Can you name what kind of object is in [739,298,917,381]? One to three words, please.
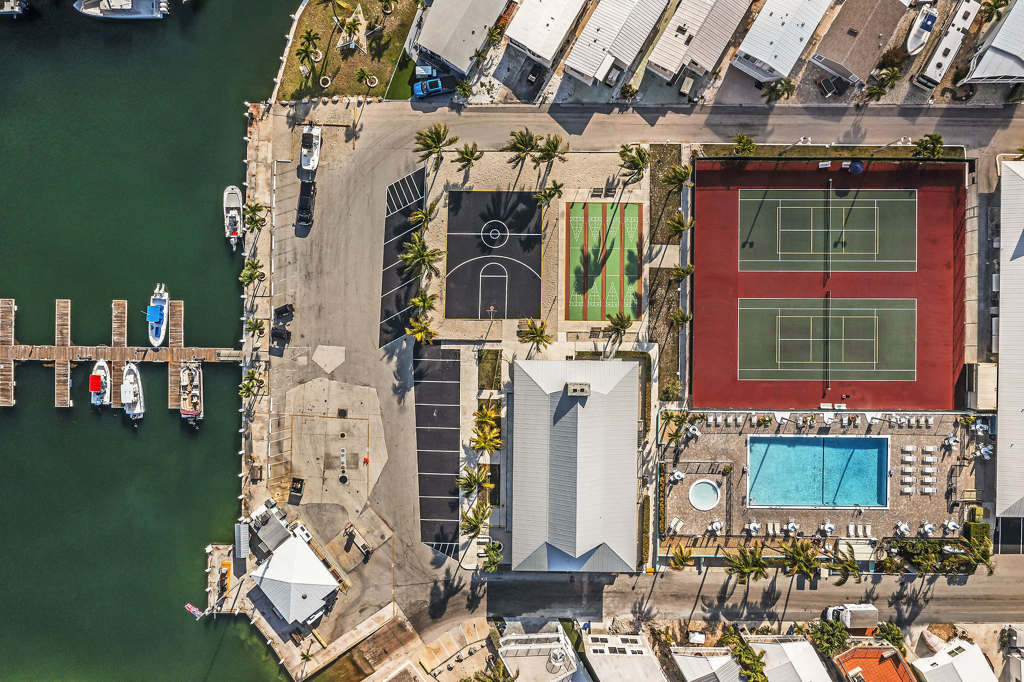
tennis court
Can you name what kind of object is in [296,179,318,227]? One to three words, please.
truck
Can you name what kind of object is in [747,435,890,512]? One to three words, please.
swimming pool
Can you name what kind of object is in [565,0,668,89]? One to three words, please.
house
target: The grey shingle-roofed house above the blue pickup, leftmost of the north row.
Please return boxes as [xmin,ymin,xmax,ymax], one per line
[418,0,509,78]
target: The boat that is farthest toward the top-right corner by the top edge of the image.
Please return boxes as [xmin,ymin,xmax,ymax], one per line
[908,0,943,58]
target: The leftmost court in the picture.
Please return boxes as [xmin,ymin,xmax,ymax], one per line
[444,190,543,321]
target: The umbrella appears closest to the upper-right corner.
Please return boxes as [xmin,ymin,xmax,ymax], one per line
[854,155,872,170]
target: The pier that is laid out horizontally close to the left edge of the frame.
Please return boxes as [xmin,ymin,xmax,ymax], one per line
[0,298,235,409]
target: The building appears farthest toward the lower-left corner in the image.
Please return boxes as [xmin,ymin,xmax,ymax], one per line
[250,497,352,625]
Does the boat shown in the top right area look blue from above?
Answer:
No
